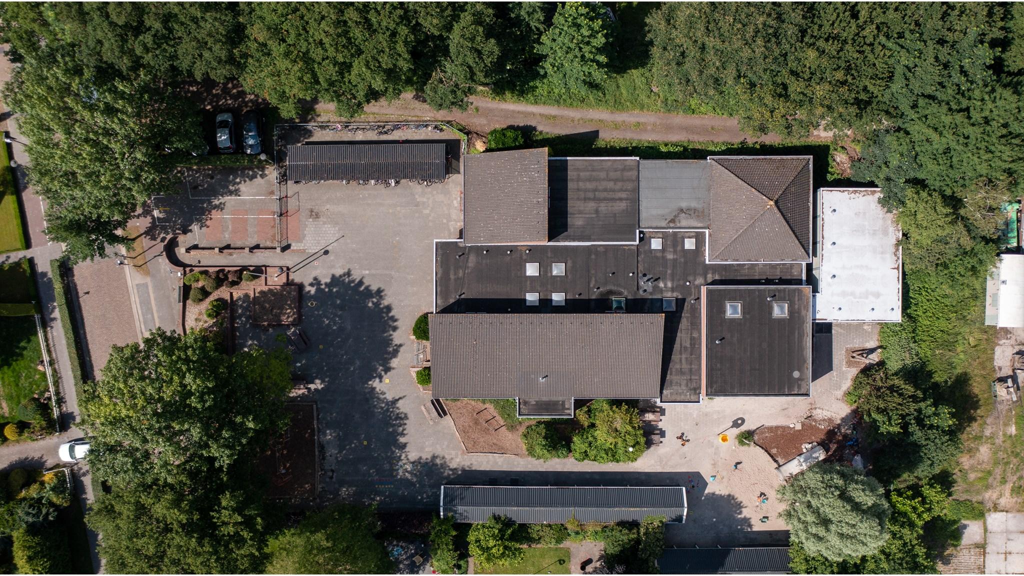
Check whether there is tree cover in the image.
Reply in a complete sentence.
Yes, tree cover shows up in the scene.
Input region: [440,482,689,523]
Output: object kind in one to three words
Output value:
shed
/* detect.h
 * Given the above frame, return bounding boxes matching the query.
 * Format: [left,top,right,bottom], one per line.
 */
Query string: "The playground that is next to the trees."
[151,126,882,542]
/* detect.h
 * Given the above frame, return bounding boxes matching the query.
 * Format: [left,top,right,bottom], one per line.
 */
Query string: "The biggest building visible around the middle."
[428,148,813,417]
